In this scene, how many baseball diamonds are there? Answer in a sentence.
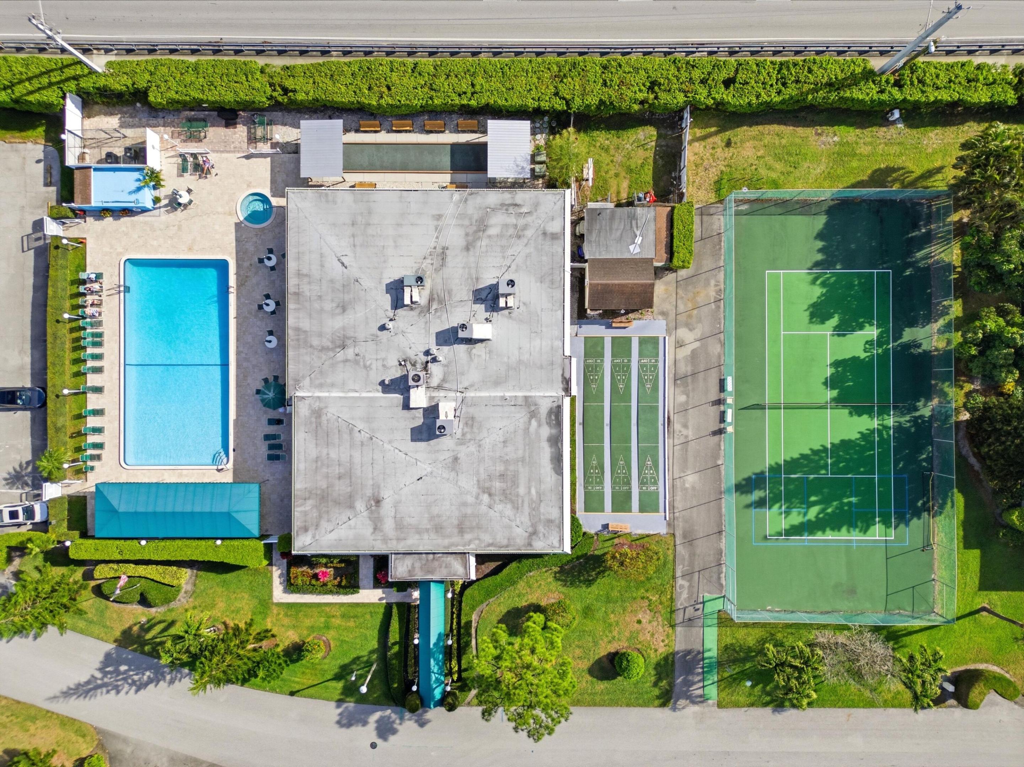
There are no baseball diamonds in this view.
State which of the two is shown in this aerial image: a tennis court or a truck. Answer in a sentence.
Of the two, only a tennis court appears.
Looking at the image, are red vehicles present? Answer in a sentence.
No, the photo shows no red vehicle.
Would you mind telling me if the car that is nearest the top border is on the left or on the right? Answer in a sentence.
The car that is nearest the top border is on the left side of the image.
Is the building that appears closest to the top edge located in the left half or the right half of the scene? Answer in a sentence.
The building that appears closest to the top edge is on the left side of the image.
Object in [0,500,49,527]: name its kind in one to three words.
car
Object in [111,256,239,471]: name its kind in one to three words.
swimming pool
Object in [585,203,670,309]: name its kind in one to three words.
shed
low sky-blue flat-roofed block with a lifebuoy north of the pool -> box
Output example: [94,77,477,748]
[77,168,156,211]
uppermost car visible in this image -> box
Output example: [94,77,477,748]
[0,383,48,411]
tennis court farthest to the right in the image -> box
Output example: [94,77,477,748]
[724,199,932,611]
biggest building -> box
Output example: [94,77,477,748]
[285,187,577,554]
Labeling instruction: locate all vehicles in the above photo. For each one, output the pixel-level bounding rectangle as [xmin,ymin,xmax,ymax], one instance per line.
[0,500,49,527]
[0,383,48,411]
